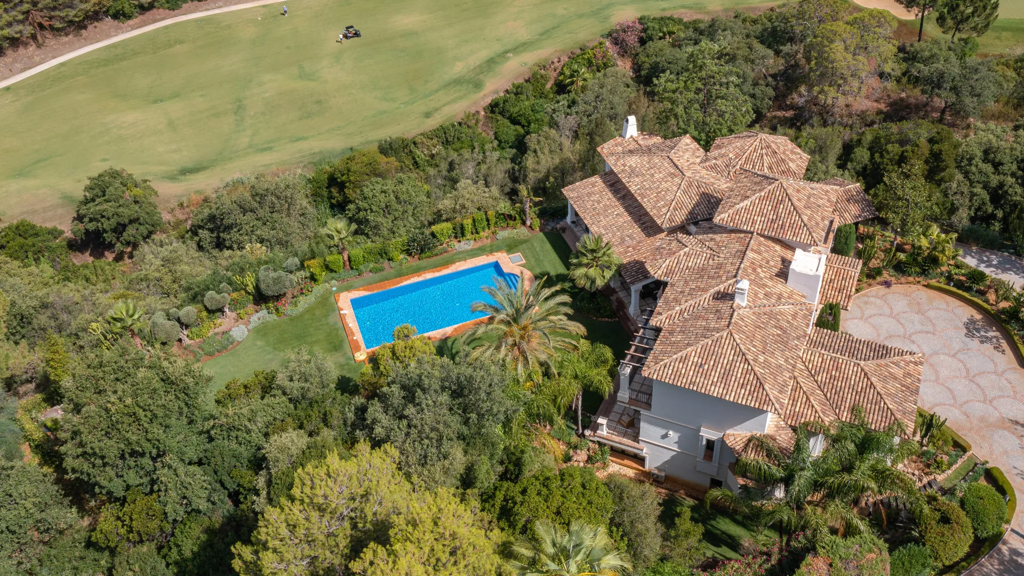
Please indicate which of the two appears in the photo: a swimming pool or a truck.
swimming pool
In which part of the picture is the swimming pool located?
center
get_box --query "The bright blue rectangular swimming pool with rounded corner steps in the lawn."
[334,244,540,364]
